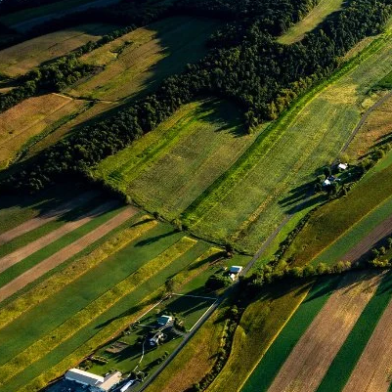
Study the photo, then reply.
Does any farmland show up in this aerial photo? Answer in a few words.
Yes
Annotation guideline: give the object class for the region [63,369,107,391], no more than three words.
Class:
building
